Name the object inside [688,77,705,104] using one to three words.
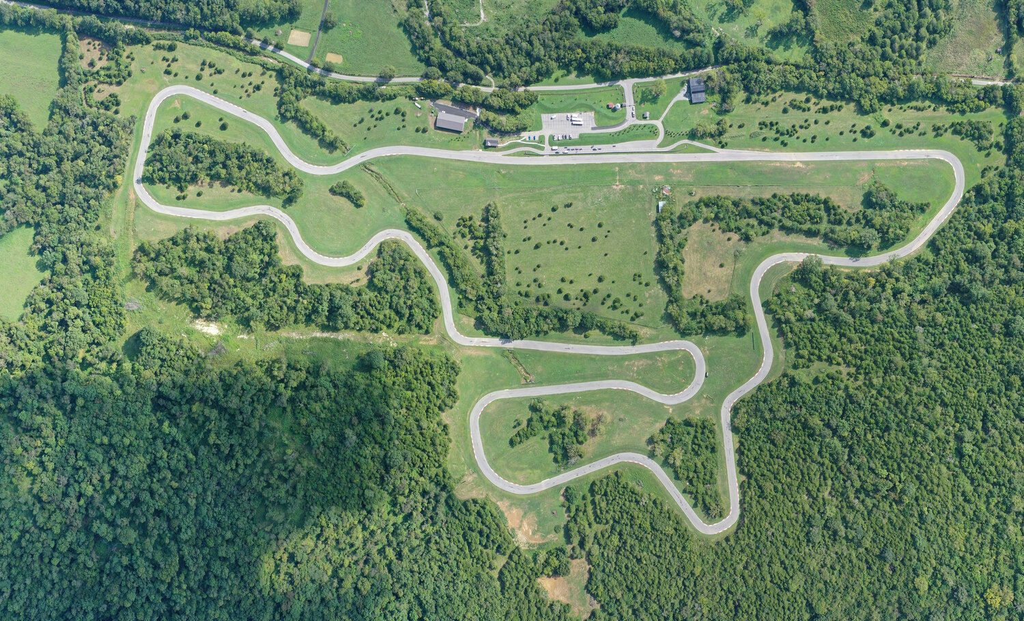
barn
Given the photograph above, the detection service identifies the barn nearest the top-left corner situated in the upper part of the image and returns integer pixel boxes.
[436,111,466,133]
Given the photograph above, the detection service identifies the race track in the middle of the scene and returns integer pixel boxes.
[133,85,965,534]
